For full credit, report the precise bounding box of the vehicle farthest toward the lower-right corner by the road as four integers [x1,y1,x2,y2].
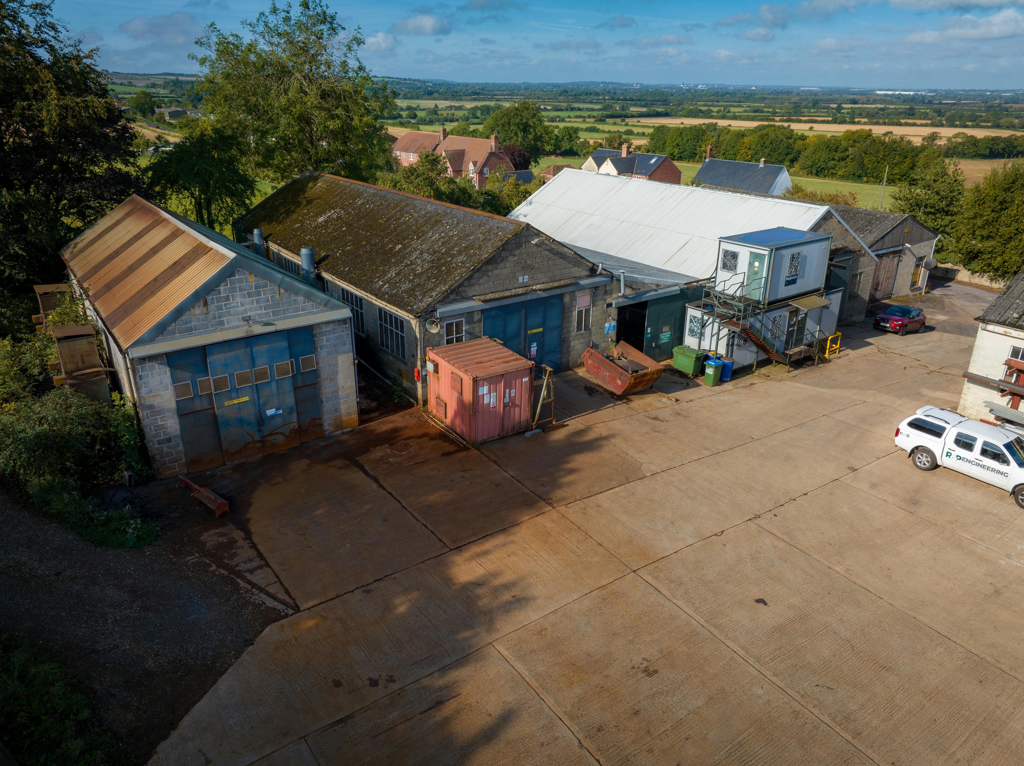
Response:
[890,402,1024,511]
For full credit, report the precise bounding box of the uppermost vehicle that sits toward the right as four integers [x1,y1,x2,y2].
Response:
[874,304,929,336]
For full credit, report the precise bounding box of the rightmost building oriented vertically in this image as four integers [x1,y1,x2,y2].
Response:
[957,261,1024,423]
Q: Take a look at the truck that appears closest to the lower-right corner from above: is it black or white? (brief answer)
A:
white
